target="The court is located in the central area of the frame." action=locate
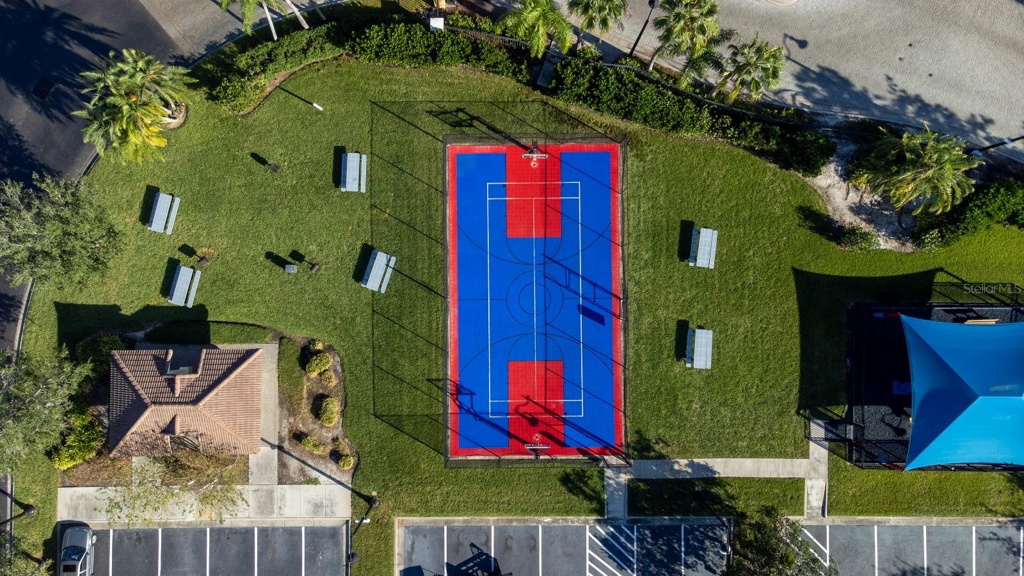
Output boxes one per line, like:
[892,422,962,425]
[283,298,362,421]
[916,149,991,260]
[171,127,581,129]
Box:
[445,139,626,459]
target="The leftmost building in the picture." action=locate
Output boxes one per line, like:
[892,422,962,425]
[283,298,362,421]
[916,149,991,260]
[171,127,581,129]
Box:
[108,348,264,458]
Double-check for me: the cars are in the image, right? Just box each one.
[58,525,102,576]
